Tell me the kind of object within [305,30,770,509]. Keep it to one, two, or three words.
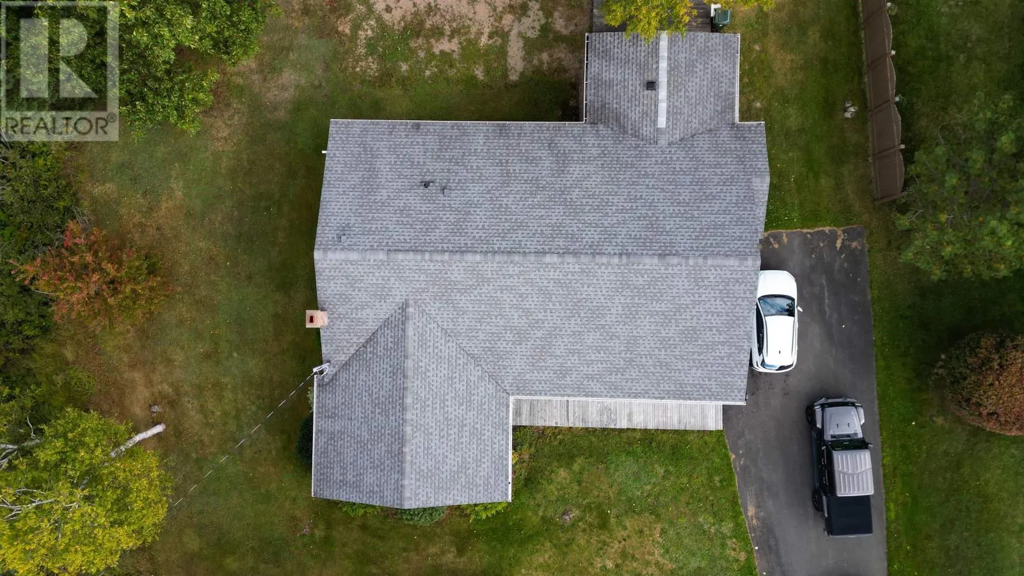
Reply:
house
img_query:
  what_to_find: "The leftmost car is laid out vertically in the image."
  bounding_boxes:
[749,270,804,375]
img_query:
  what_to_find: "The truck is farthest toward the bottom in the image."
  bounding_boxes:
[804,395,874,541]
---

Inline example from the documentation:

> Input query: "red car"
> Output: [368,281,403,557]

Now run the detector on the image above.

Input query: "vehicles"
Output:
[804,395,874,541]
[749,270,804,375]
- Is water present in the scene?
No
